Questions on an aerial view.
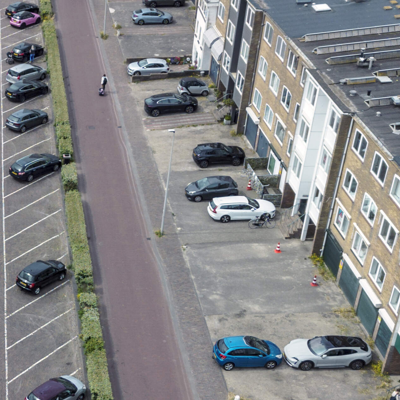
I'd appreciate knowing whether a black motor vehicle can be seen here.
Yes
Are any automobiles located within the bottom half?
Yes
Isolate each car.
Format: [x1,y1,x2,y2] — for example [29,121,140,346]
[181,171,241,202]
[140,0,186,7]
[11,257,70,295]
[205,192,277,222]
[284,334,381,371]
[130,6,175,24]
[189,140,247,168]
[125,53,172,73]
[140,92,199,116]
[7,41,46,63]
[22,375,88,400]
[7,9,42,28]
[2,77,52,101]
[5,151,64,182]
[178,74,211,94]
[1,63,48,85]
[210,335,286,371]
[2,106,52,132]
